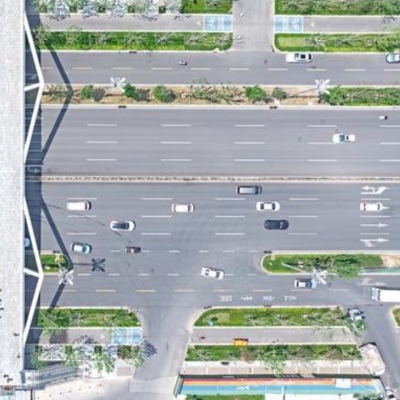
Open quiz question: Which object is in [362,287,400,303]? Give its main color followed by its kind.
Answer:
white vehicle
